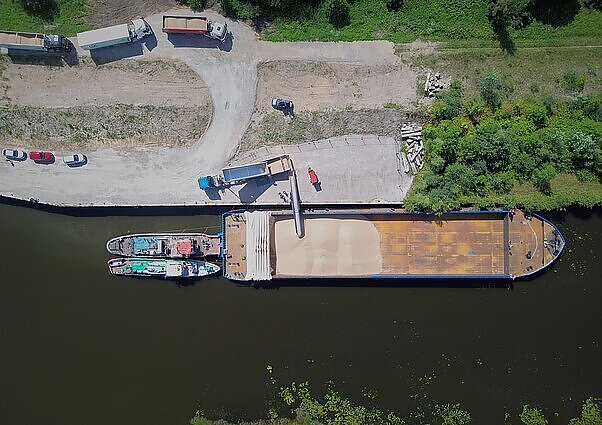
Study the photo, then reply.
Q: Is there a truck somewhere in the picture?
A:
Yes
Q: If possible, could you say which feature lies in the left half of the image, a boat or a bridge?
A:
boat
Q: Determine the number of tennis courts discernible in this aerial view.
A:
zero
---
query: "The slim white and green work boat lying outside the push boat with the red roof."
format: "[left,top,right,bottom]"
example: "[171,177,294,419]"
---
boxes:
[108,257,219,277]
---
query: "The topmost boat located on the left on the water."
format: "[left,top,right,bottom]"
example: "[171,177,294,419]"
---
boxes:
[106,232,222,259]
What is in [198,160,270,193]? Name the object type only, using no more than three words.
truck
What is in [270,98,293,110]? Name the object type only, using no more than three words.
vehicle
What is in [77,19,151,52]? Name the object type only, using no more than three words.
truck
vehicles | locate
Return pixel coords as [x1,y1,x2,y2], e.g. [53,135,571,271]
[0,31,73,55]
[62,153,86,163]
[307,169,320,183]
[198,160,270,193]
[29,152,53,162]
[77,19,151,52]
[270,98,293,110]
[1,150,26,160]
[162,17,228,43]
